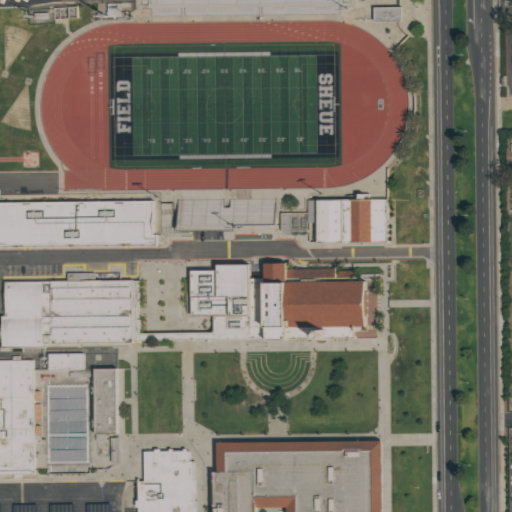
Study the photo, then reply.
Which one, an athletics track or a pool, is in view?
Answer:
athletics track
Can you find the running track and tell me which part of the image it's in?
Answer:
top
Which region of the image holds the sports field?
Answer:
top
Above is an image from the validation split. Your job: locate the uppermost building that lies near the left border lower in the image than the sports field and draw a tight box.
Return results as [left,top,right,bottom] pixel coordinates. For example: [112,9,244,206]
[0,196,162,246]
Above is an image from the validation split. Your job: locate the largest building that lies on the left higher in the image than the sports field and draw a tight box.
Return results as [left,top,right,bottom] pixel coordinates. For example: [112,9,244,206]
[106,3,134,18]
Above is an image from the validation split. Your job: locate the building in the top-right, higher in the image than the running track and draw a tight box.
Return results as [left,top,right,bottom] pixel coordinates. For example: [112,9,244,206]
[374,8,403,22]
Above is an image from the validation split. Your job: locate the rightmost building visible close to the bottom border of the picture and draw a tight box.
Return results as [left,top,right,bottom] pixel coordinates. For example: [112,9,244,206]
[212,442,382,512]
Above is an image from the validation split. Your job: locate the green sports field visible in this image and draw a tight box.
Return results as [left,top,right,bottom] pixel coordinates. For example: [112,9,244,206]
[109,42,340,168]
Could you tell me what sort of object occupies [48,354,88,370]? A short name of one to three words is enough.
building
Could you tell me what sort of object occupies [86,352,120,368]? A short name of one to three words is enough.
shed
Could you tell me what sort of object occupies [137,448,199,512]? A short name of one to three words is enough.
building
